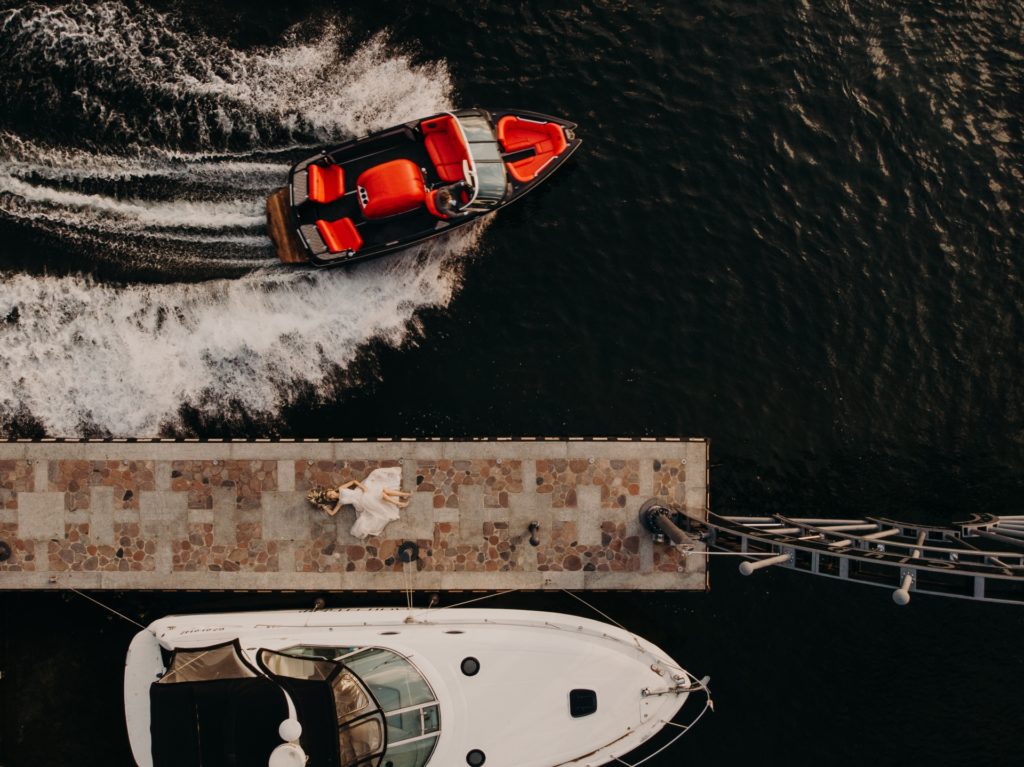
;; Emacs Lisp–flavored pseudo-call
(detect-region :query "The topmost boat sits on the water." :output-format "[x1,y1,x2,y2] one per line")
[266,106,582,267]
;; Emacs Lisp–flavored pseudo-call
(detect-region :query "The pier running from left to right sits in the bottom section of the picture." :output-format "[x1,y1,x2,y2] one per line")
[0,435,709,594]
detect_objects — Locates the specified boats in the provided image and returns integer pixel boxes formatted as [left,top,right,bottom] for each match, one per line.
[126,608,713,767]
[266,106,582,267]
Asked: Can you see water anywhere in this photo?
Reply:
Yes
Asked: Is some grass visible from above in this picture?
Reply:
No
